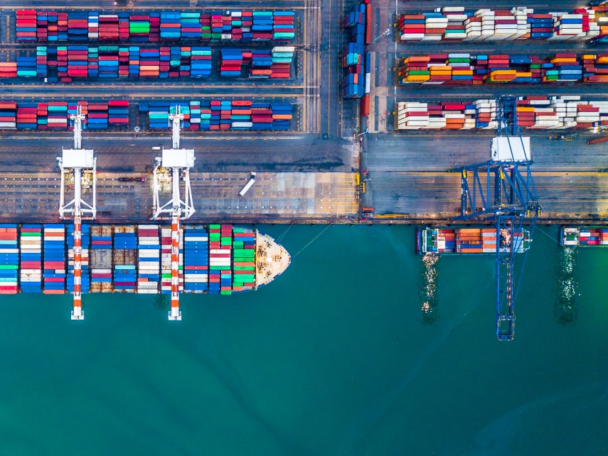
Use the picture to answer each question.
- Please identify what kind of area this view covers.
port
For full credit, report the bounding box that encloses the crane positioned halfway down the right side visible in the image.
[447,94,542,341]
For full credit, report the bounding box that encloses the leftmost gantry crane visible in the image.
[56,102,102,320]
